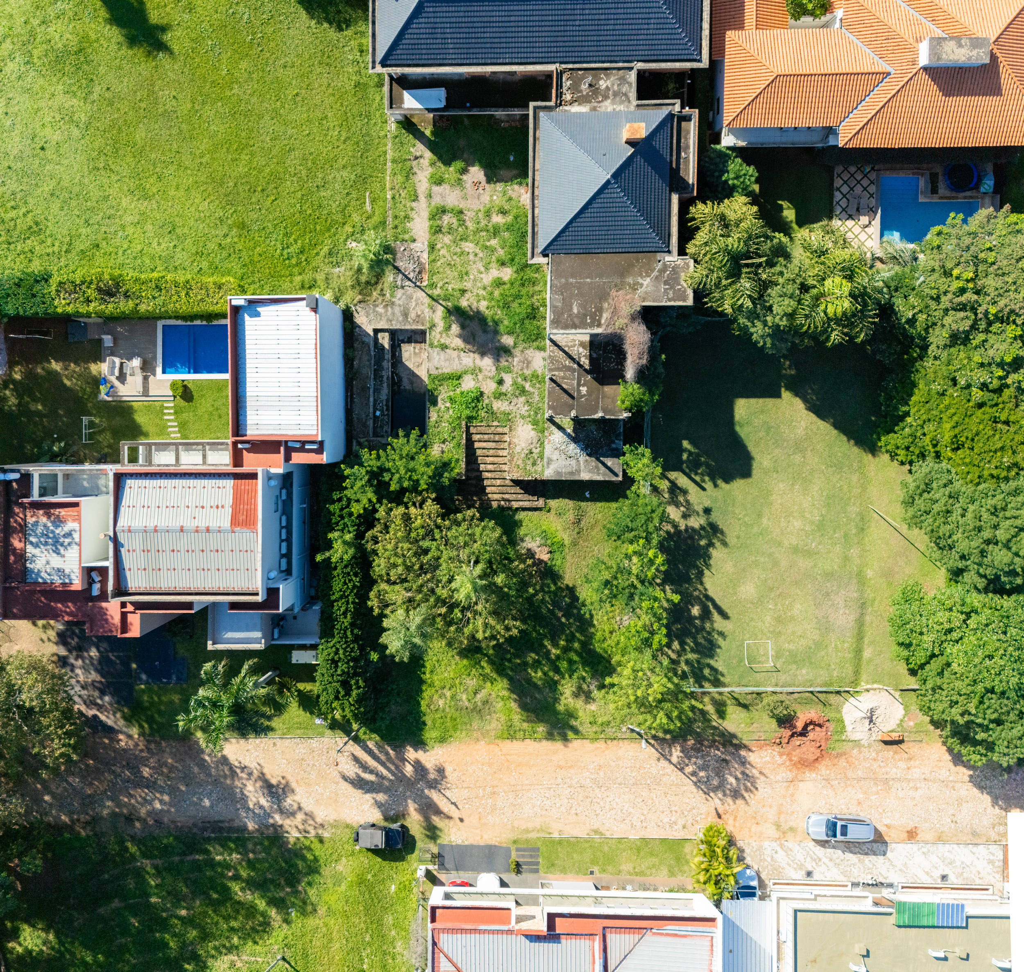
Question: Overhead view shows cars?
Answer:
Yes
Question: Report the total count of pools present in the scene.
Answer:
2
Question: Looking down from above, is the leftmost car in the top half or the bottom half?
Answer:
bottom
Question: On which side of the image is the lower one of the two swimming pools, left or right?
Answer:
left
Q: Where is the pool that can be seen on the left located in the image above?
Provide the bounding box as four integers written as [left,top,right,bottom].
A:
[157,320,229,379]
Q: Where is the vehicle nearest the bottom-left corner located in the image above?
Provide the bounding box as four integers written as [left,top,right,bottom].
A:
[351,820,409,857]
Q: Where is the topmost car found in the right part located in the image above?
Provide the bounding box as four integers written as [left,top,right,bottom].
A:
[802,809,875,847]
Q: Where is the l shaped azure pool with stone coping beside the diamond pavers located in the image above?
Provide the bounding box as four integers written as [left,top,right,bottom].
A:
[875,170,1000,252]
